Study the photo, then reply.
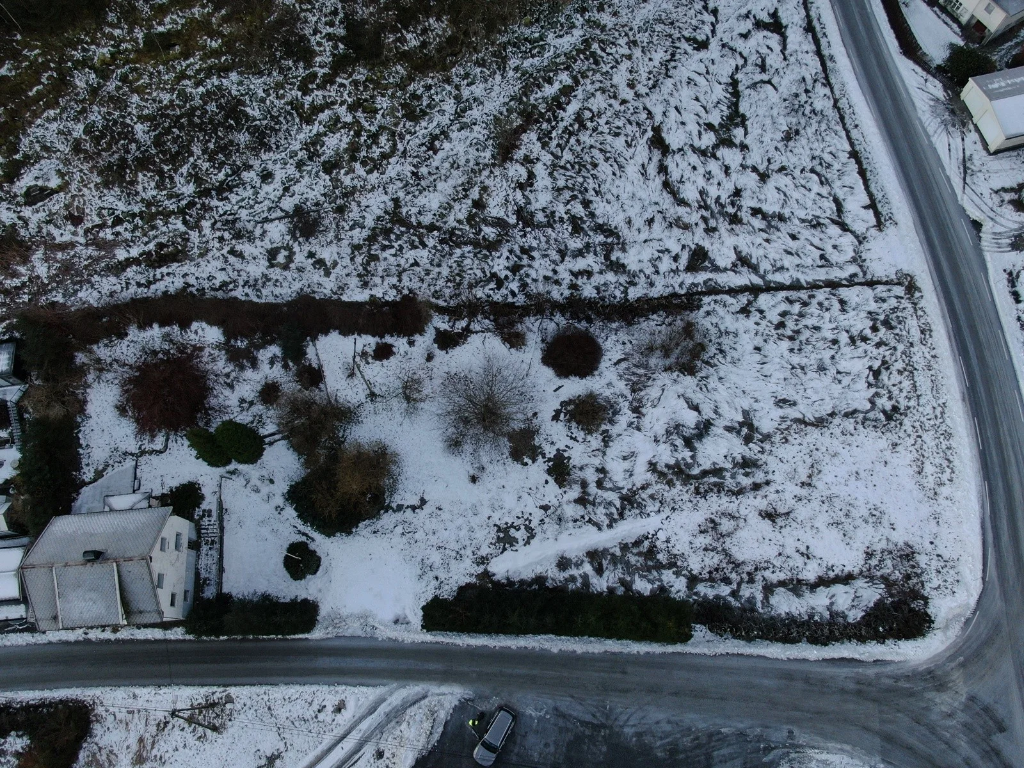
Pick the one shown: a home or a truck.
home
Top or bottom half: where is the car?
bottom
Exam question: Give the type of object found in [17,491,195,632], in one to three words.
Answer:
house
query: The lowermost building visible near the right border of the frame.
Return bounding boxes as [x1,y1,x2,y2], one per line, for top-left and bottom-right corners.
[960,66,1024,150]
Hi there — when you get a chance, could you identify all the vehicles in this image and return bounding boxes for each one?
[473,705,517,767]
